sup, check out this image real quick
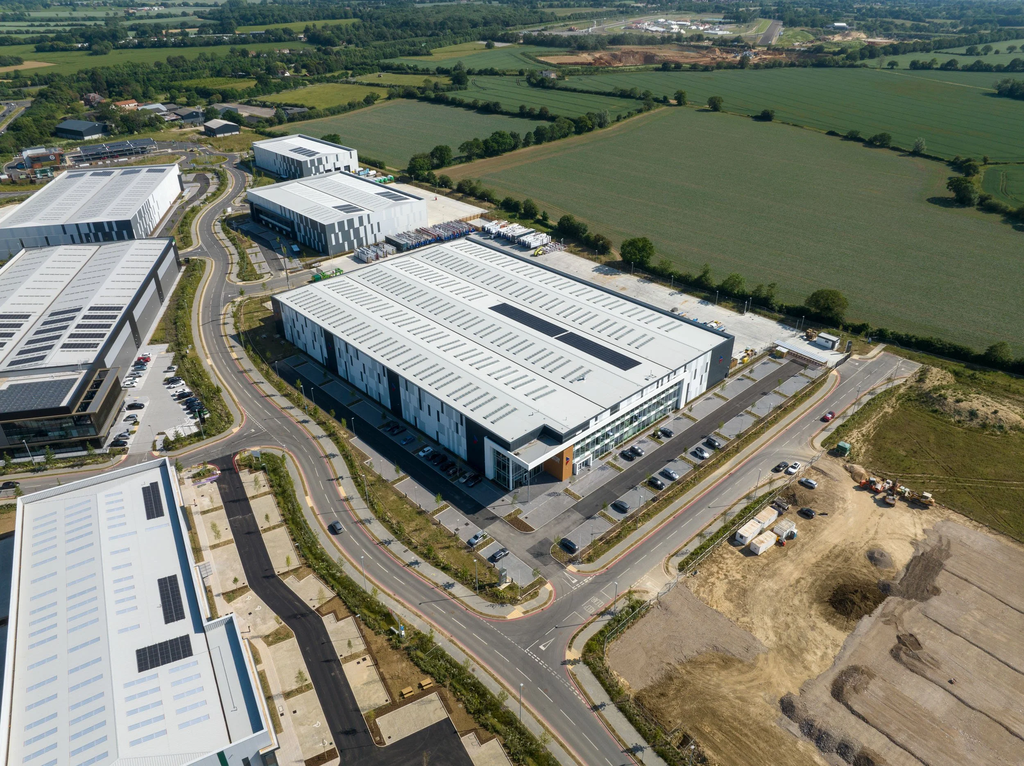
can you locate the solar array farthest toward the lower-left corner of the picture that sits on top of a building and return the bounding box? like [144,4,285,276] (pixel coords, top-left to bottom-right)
[135,634,193,673]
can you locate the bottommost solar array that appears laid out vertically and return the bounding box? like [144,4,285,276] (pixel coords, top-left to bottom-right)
[158,575,185,625]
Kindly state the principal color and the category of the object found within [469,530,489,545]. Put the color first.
gray car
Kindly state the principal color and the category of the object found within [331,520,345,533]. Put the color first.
gray vehicle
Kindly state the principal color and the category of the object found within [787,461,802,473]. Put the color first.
white vehicle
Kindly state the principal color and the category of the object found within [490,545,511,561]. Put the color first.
gray car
